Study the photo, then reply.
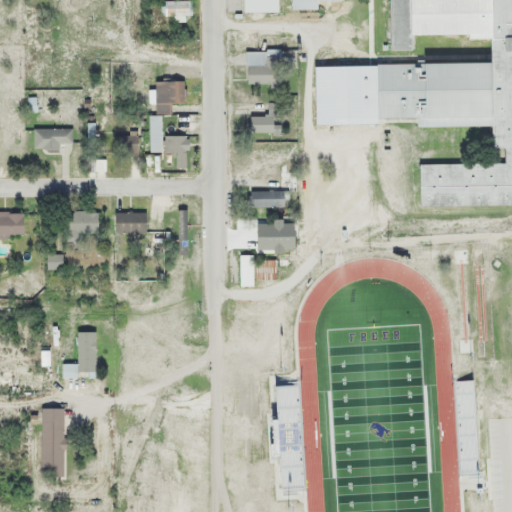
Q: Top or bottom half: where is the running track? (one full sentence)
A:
Seen from above, the running track lies in the bottom half of the view.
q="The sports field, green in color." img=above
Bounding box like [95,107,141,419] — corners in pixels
[316,278,444,512]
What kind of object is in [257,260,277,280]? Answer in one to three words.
barn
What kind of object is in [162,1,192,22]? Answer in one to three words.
house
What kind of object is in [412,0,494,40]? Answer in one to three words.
building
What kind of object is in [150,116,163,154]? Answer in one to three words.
shed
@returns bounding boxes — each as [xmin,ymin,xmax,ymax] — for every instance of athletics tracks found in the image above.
[299,258,460,512]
